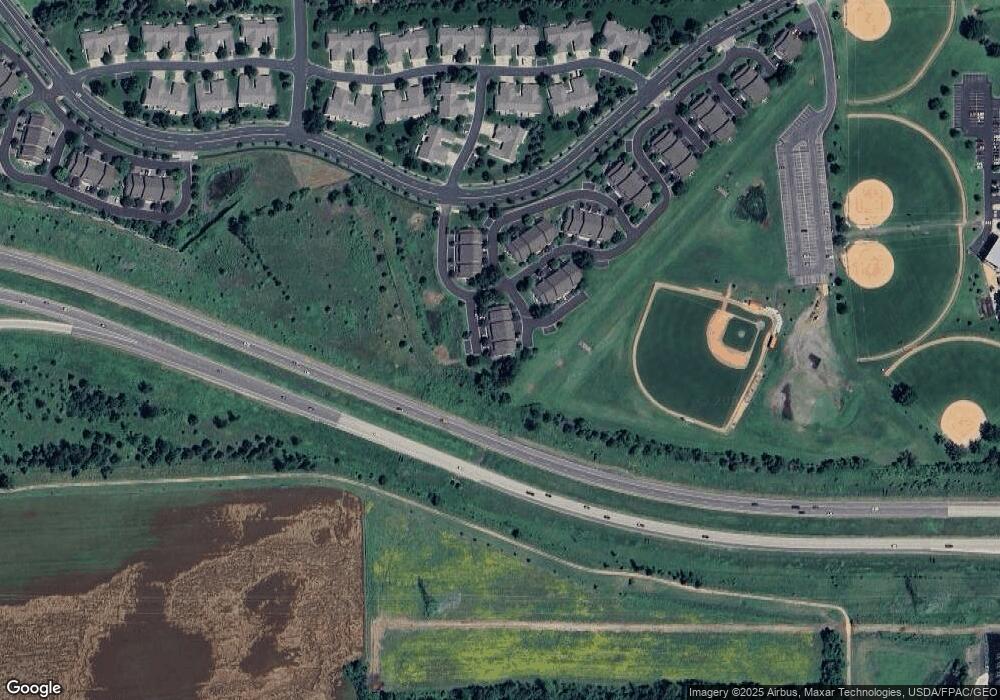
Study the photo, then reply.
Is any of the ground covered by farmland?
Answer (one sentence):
Yes, the picture does contain farmland.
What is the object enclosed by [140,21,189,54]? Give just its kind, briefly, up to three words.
house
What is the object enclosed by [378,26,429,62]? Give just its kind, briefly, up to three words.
house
